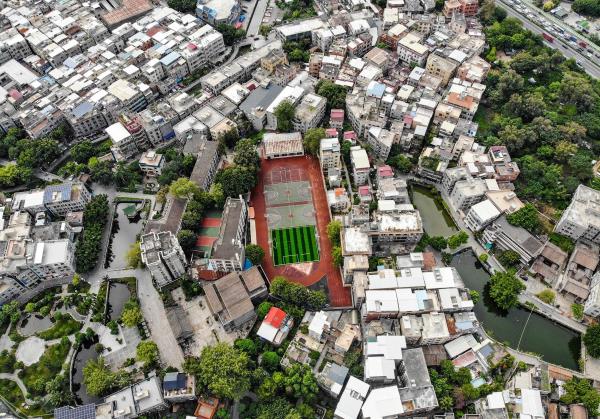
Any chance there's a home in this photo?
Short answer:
Yes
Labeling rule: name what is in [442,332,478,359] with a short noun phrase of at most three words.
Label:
shed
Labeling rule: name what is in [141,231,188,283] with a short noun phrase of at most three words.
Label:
building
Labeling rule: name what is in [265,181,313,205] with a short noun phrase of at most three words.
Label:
basketball court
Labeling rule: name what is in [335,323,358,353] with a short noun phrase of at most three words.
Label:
house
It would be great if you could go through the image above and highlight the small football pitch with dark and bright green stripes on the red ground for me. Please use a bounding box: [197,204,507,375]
[272,226,319,265]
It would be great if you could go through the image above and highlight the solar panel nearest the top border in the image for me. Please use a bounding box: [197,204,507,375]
[43,183,74,203]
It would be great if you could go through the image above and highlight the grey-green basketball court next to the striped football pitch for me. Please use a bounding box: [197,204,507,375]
[267,205,315,229]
